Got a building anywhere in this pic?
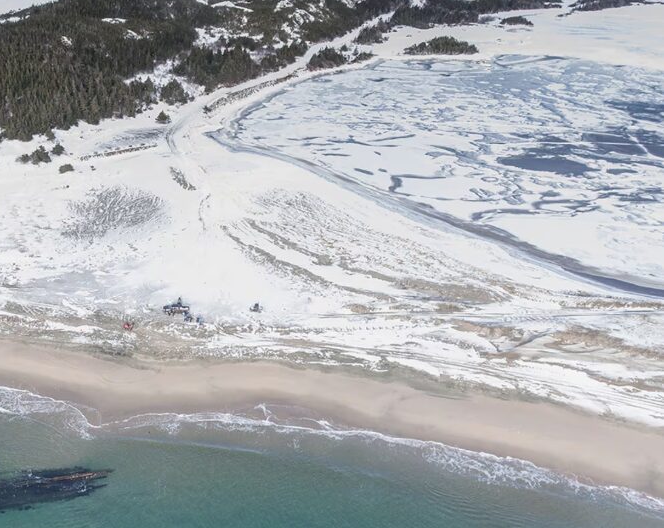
No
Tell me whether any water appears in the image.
Yes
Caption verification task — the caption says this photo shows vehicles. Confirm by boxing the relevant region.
[184,313,196,321]
[162,303,190,316]
[250,307,260,313]
[122,323,134,330]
